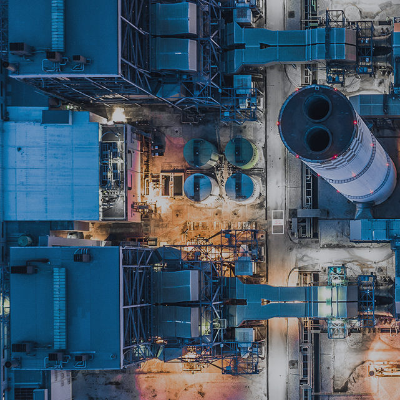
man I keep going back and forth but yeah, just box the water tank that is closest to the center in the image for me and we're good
[184,171,219,204]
